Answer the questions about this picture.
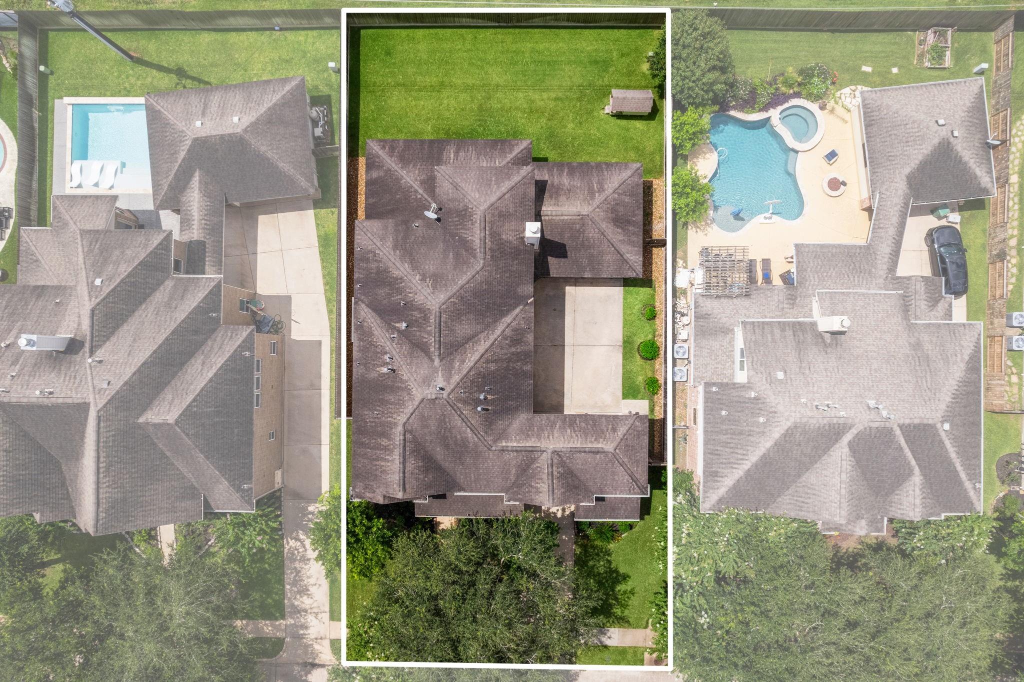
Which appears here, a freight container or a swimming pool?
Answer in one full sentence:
Visible in the photo is a swimming pool.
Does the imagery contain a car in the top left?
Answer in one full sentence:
No, no car can be made out in the top left.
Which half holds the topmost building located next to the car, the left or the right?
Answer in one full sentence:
The topmost building located next to the car appears in the right half of the scene.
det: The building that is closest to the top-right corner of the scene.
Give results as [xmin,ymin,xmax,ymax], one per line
[848,76,998,210]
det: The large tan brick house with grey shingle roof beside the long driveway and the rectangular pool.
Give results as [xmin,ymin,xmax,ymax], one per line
[0,193,283,536]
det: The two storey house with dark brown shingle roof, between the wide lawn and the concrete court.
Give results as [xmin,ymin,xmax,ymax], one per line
[349,138,651,522]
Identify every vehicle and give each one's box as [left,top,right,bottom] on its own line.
[928,226,976,297]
